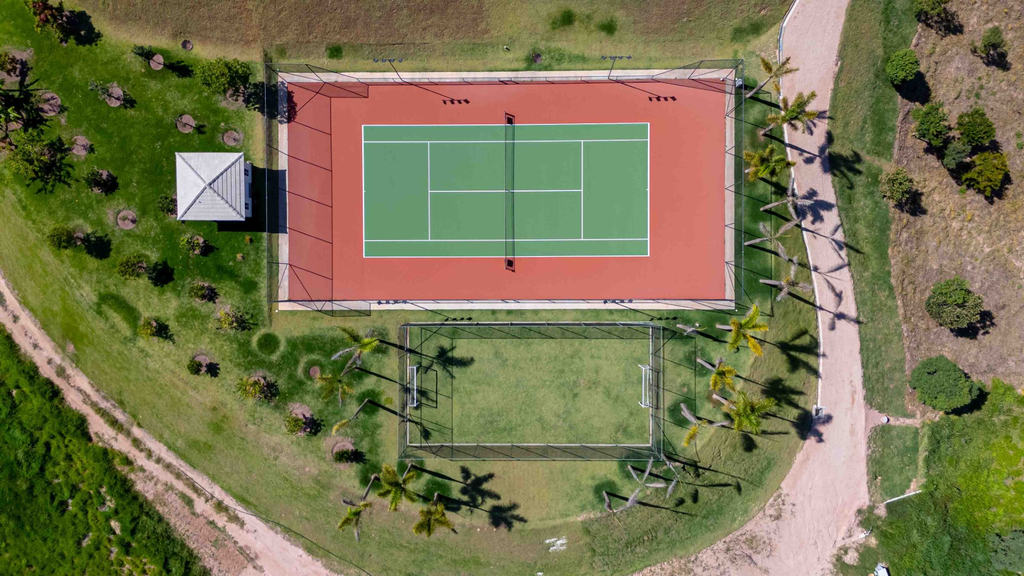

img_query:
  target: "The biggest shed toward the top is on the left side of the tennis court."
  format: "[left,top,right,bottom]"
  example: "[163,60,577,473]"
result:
[174,150,252,219]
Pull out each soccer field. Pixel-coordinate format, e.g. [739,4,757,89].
[406,322,653,447]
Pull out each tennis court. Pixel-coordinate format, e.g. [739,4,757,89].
[277,69,736,310]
